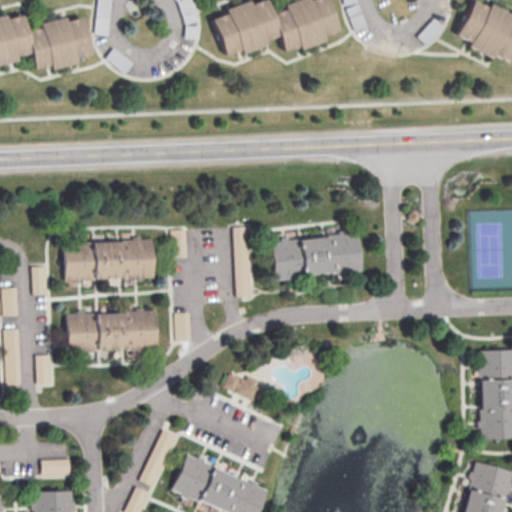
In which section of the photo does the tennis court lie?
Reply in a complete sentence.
The tennis court appears toward the right of the photo.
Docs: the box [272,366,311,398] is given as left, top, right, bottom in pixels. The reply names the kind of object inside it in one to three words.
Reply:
swimming pool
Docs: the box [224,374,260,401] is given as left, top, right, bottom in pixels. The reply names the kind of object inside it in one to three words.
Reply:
building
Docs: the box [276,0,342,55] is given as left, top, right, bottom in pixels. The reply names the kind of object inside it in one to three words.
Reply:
building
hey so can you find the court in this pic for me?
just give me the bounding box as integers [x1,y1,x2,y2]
[468,210,512,290]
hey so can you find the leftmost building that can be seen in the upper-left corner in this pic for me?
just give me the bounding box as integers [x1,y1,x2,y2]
[0,13,94,74]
